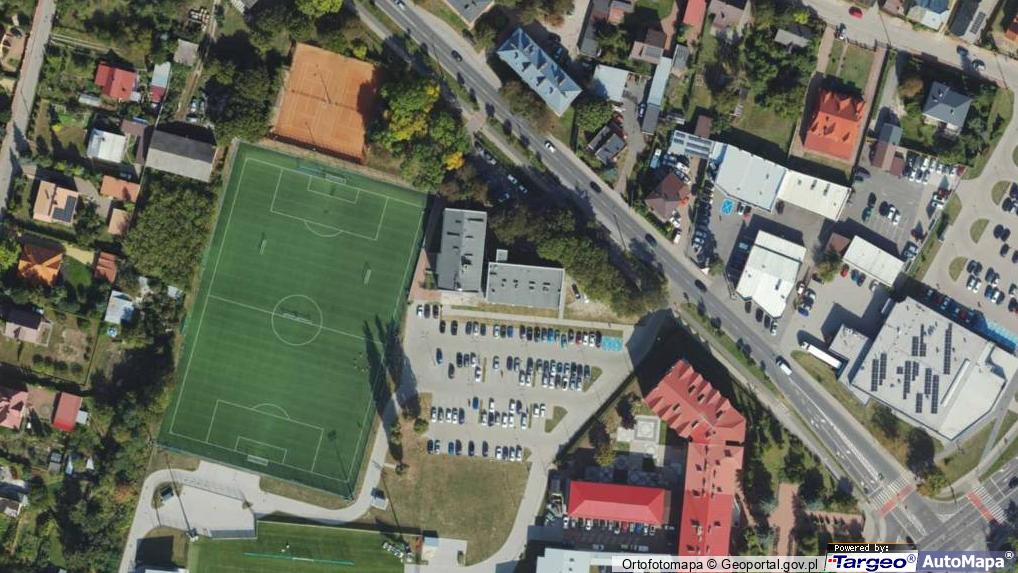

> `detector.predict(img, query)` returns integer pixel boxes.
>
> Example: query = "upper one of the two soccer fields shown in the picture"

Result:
[157,140,427,499]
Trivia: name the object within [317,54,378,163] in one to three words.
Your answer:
tennis court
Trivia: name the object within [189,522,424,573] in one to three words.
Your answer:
soccer field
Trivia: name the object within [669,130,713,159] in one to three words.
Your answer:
building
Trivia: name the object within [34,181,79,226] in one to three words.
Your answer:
house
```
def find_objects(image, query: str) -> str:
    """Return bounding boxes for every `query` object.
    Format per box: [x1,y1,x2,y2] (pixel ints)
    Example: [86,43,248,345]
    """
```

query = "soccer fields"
[157,140,427,499]
[189,522,424,573]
